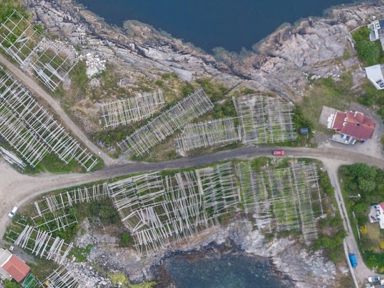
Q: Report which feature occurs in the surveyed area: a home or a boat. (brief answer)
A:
home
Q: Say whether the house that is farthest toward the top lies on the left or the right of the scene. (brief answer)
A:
right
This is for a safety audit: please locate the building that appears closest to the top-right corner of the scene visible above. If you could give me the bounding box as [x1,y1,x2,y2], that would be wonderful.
[363,17,384,55]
